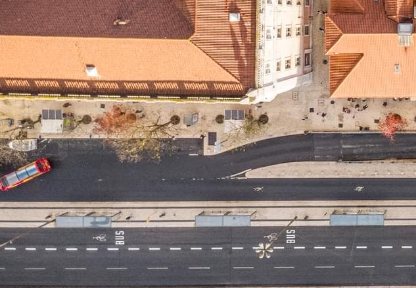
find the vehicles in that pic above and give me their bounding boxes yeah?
[3,140,34,153]
[0,156,51,193]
